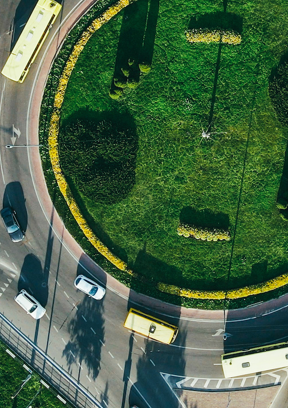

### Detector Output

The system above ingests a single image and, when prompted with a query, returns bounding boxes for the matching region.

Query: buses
[1,0,63,85]
[123,305,183,349]
[221,339,288,380]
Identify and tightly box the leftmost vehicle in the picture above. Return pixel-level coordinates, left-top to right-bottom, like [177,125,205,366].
[0,206,26,241]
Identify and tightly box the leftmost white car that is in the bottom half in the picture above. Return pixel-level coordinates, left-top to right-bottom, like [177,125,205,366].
[13,288,46,320]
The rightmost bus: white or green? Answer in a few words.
white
